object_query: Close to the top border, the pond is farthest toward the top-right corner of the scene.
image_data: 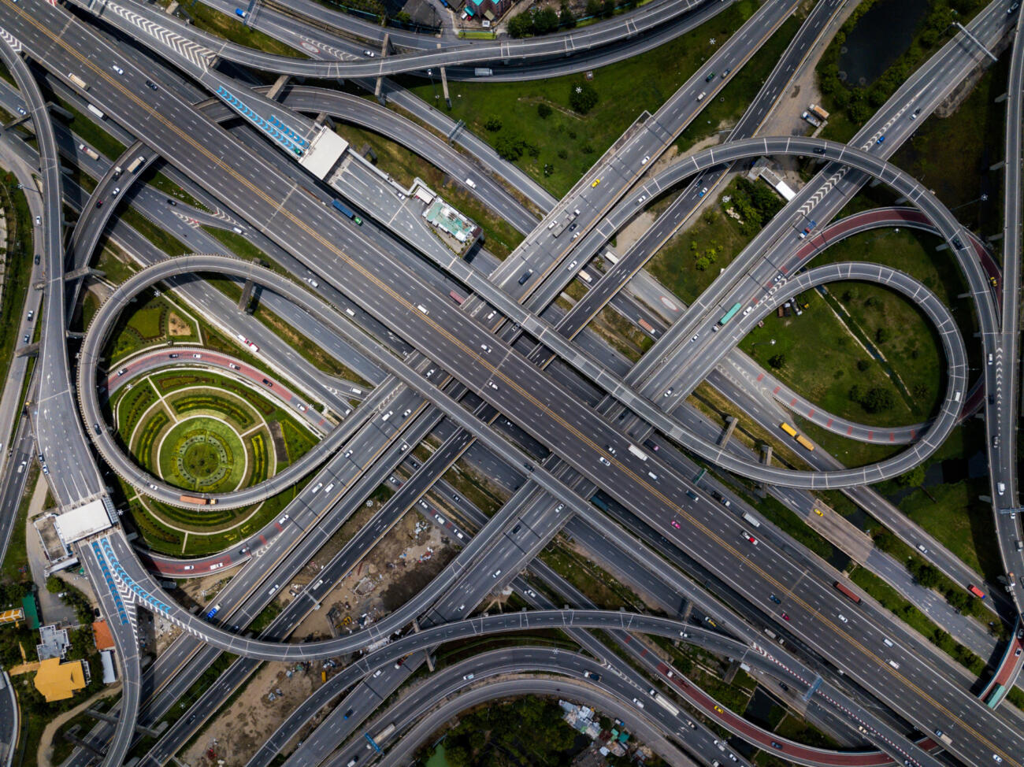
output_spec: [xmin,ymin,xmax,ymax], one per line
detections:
[837,0,928,89]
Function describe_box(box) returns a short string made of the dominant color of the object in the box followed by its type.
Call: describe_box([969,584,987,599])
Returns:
red vehicle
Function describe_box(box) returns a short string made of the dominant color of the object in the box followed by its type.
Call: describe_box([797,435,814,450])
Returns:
orange vehicle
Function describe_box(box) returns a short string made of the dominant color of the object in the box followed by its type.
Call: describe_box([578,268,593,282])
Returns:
white vehicle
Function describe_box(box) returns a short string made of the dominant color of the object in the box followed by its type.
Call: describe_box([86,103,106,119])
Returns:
white vehicle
